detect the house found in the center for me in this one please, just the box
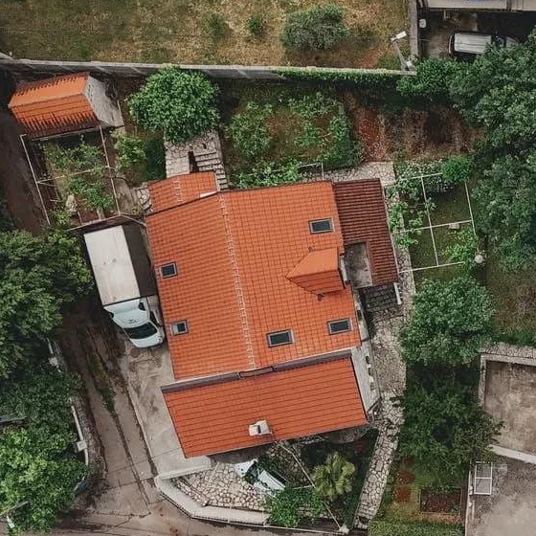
[142,172,402,459]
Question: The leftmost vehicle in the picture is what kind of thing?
truck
